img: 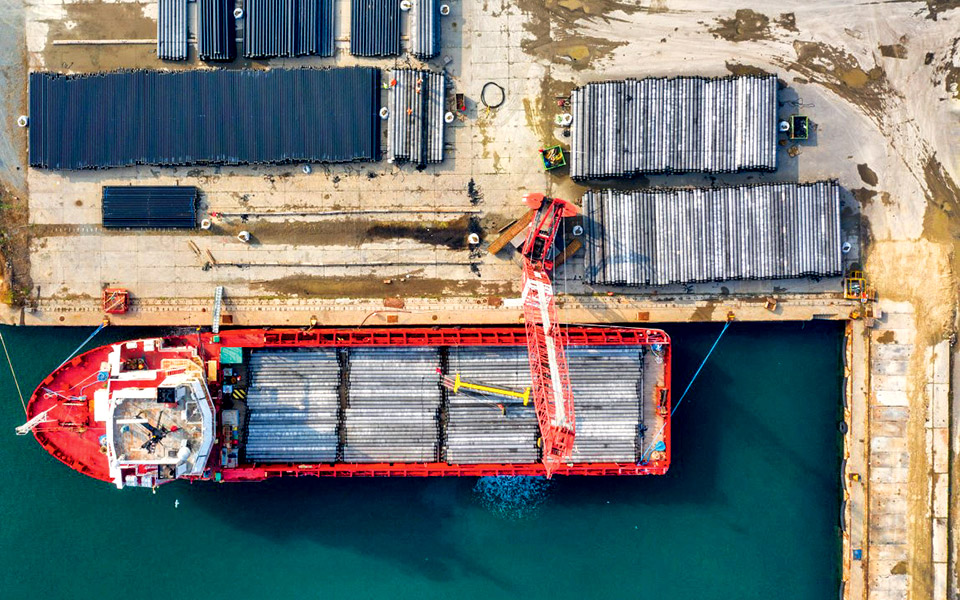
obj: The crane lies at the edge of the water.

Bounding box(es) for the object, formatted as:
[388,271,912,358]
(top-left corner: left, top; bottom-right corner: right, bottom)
[495,195,581,479]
